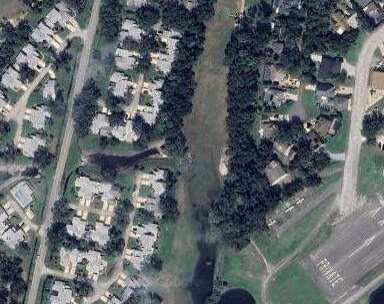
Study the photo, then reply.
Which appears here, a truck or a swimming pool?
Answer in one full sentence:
Visible in the photo is a swimming pool.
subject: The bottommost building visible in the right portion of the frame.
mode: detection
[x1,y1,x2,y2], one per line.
[263,157,290,186]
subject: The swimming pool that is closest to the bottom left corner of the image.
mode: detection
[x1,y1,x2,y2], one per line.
[9,182,33,207]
